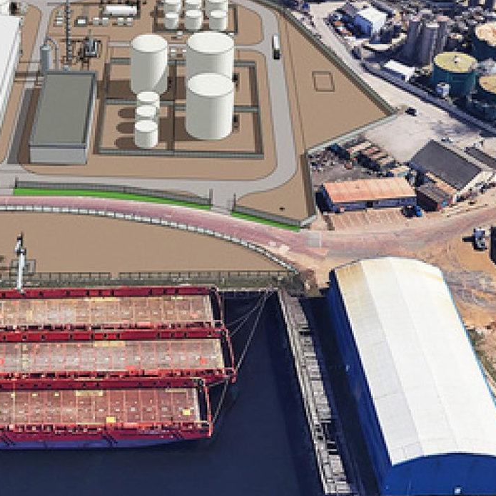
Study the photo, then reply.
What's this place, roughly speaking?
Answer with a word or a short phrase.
industrial area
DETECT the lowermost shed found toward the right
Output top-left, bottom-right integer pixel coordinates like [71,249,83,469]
[328,256,496,495]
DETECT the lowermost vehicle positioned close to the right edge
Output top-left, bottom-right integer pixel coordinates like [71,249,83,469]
[471,228,495,255]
